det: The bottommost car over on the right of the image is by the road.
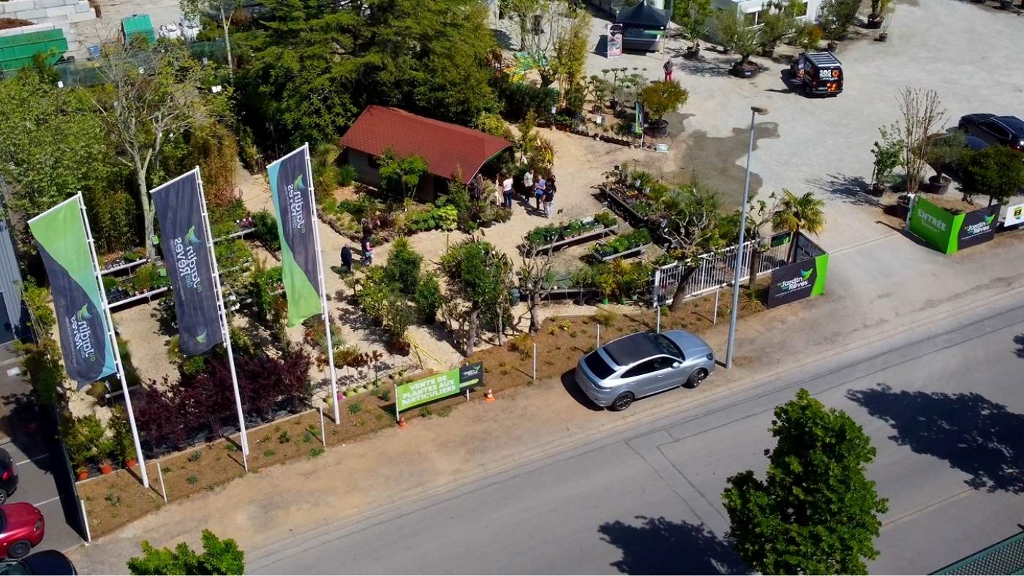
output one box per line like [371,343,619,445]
[575,333,711,410]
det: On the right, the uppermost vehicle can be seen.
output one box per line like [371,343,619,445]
[790,45,845,91]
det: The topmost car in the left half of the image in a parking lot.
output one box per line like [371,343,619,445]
[0,447,25,507]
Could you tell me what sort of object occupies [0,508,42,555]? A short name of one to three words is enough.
car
